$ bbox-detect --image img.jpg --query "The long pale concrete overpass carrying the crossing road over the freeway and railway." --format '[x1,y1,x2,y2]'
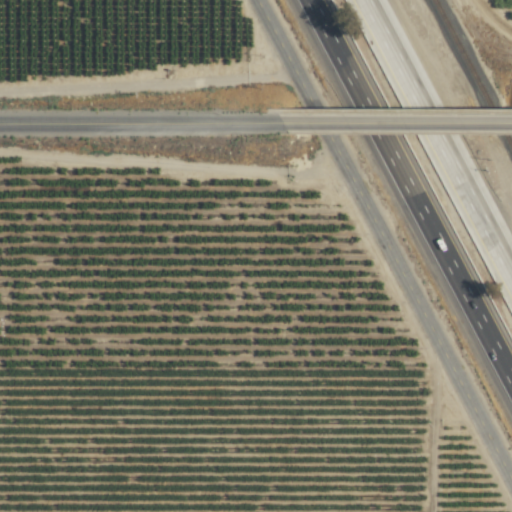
[266,108,512,134]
